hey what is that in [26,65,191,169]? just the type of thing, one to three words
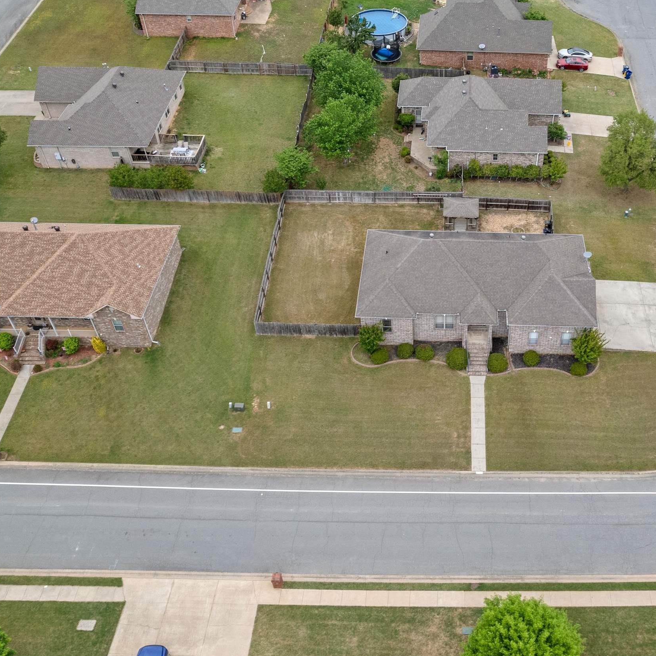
house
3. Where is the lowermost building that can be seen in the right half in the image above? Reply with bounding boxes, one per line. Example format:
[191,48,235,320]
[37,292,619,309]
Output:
[354,230,599,375]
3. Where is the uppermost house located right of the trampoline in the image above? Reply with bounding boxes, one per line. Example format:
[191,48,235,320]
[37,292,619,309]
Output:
[417,0,553,71]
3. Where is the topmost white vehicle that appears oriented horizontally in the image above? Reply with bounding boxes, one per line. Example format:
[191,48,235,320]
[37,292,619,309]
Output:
[558,47,593,62]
